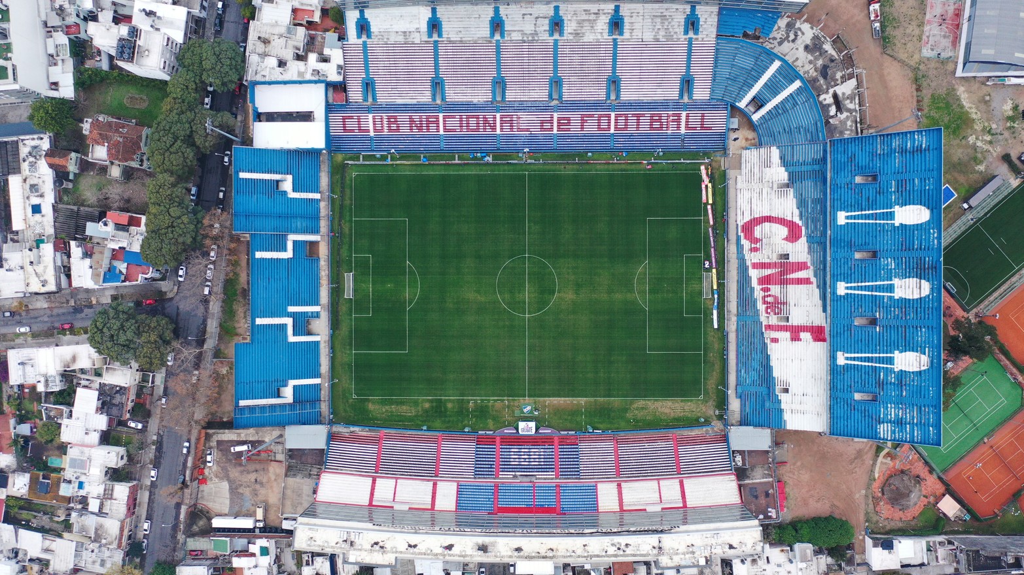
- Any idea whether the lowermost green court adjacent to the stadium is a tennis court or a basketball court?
tennis court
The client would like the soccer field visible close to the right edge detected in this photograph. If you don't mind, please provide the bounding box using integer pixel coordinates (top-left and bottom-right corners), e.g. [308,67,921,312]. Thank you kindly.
[944,185,1024,311]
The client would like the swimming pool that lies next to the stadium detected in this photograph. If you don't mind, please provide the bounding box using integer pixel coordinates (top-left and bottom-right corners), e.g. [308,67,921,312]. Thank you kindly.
[944,182,959,208]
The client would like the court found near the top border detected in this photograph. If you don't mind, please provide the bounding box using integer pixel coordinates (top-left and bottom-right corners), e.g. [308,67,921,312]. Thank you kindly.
[919,0,962,59]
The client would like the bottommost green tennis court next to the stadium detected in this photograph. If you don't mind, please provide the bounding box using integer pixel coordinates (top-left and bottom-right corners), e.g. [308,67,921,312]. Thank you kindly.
[914,354,1023,473]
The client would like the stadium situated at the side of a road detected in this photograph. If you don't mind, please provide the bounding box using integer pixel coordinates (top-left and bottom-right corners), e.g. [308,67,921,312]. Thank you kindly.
[232,0,944,571]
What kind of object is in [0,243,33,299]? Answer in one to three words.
house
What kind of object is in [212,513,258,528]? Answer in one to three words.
vehicle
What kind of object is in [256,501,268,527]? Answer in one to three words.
vehicle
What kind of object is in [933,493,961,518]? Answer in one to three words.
shed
